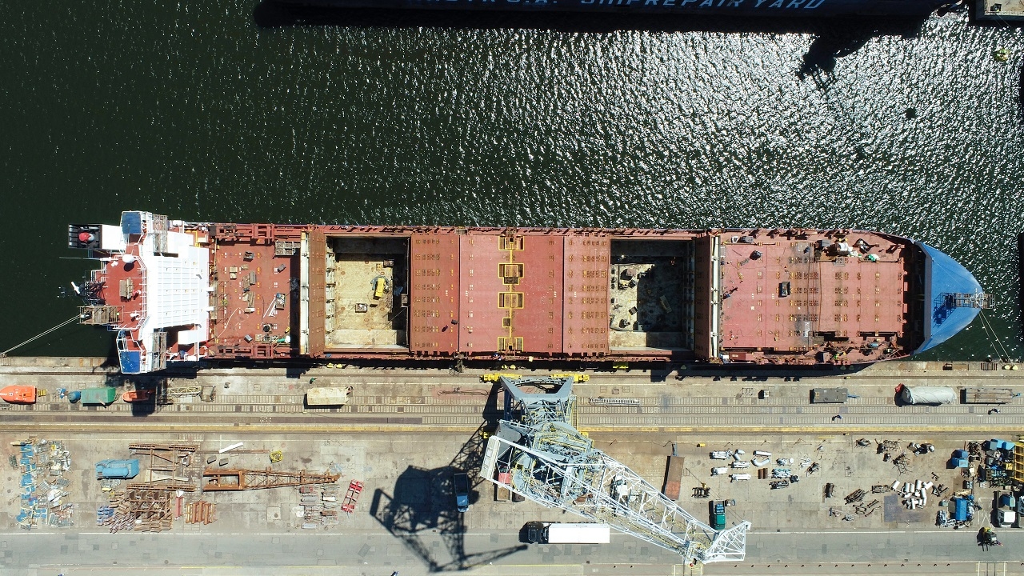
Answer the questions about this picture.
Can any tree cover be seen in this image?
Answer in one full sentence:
No, the scene doesn't show any tree cover.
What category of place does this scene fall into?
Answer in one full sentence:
This looks like a port.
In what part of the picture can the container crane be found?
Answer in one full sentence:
The container crane is in the bottom part of the image.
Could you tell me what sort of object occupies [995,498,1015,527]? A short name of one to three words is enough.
vehicle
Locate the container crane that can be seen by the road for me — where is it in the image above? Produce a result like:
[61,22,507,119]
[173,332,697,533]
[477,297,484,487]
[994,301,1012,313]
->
[473,374,753,575]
